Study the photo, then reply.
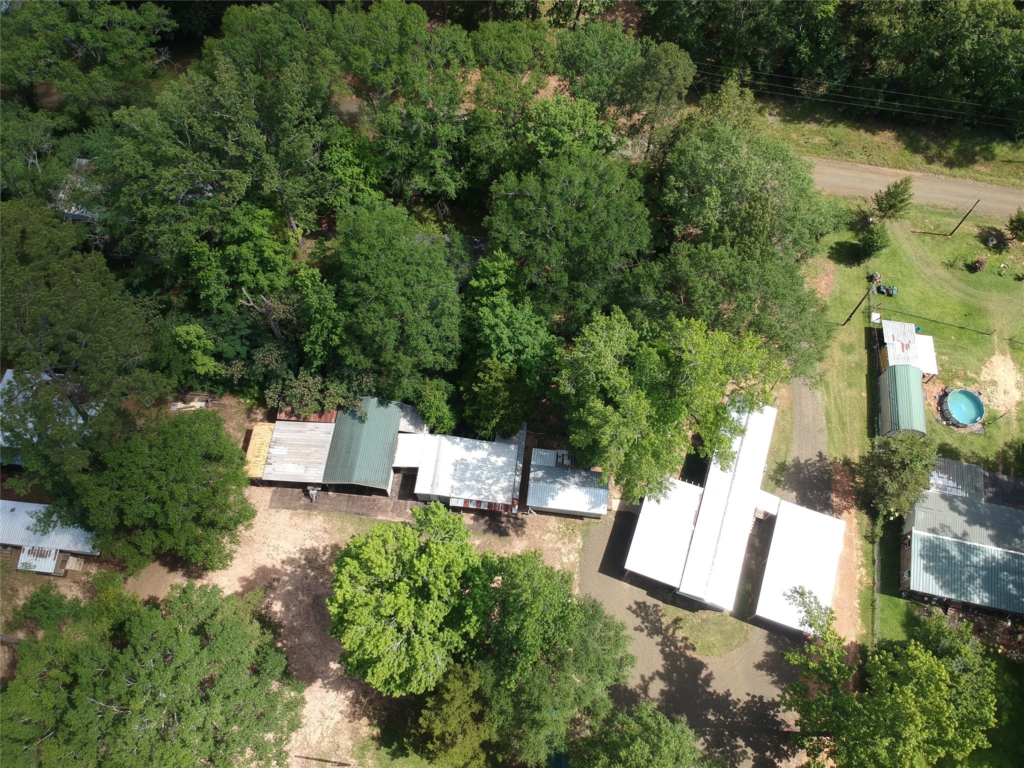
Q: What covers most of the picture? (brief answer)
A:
trees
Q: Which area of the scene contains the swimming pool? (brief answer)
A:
right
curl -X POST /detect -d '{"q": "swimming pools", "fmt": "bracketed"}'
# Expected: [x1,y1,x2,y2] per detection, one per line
[942,391,986,429]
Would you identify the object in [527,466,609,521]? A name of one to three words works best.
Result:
house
